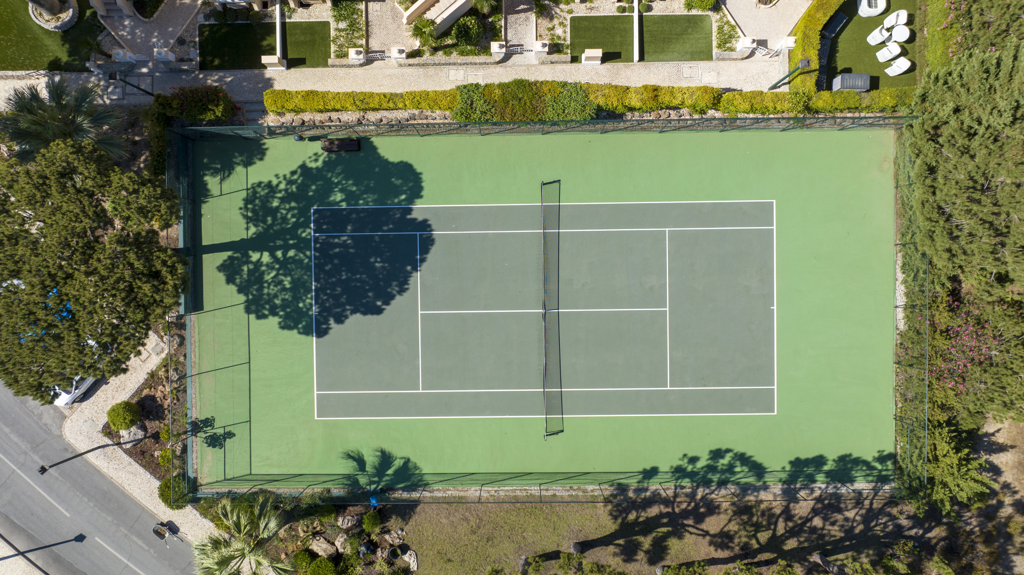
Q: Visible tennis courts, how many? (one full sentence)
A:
The photo contains exactly 1 tennis court.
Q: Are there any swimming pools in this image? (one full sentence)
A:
No, no swimming pool is visible in the view.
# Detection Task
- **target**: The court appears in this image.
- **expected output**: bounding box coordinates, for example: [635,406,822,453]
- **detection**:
[194,130,895,487]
